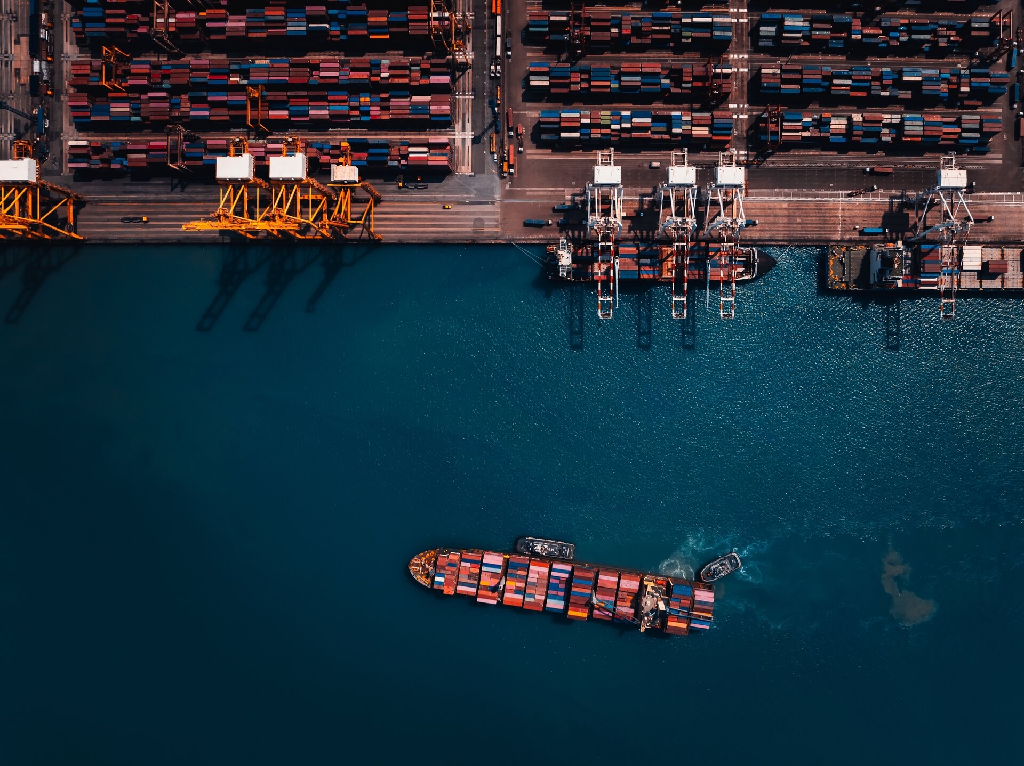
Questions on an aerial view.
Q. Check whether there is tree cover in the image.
No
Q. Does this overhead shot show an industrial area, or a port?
port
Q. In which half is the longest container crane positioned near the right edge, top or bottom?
top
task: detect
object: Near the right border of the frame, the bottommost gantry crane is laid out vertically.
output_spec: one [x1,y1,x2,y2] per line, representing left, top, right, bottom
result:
[894,145,977,320]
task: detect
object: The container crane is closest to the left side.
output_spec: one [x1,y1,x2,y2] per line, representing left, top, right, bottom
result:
[0,144,88,242]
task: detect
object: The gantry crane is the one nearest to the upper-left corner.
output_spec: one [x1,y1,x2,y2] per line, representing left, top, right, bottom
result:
[101,46,138,95]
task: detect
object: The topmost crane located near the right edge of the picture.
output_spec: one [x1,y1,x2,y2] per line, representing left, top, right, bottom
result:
[975,9,1014,61]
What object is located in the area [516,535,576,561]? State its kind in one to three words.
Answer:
boat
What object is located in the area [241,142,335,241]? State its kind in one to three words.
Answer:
container crane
